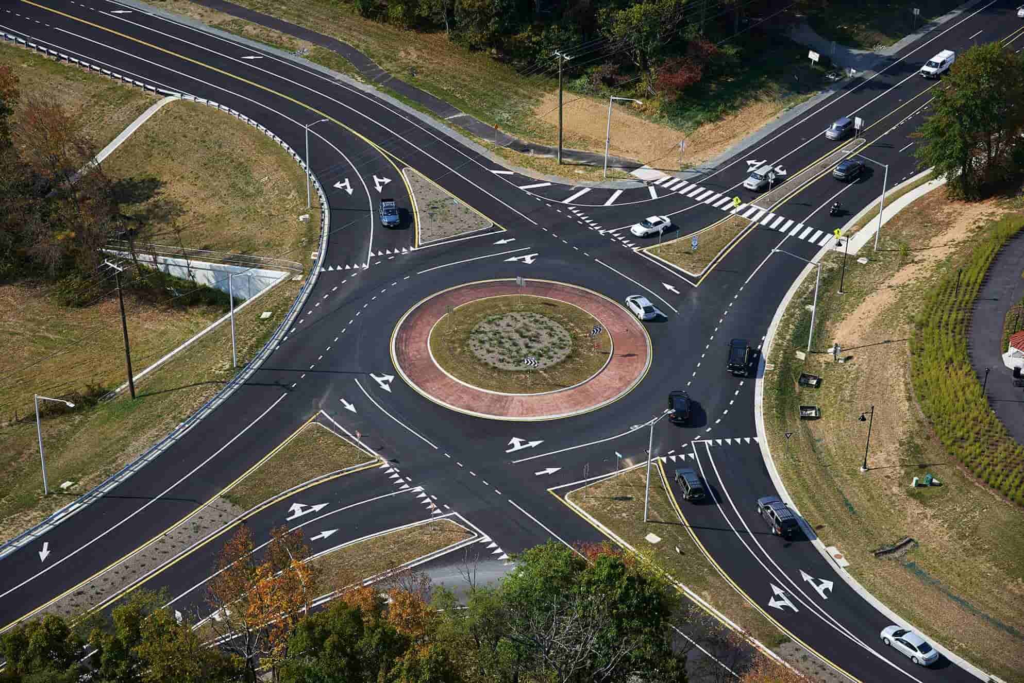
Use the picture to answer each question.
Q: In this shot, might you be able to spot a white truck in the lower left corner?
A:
No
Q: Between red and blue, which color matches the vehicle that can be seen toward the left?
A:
blue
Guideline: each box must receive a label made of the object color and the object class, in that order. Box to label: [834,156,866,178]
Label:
black car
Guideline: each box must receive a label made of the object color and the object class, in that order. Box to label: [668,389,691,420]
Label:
black car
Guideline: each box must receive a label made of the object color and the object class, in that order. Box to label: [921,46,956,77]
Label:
white truck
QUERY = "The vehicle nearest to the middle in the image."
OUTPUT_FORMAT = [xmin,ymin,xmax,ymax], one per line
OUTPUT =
[623,294,659,319]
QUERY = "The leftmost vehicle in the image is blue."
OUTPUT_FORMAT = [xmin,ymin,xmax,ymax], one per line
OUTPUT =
[380,190,400,222]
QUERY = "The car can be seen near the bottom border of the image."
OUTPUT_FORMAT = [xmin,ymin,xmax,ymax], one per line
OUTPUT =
[878,624,940,667]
